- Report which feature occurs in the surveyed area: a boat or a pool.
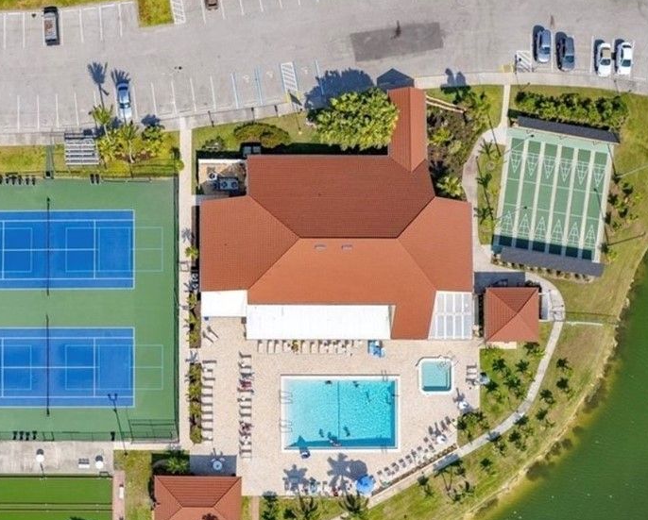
pool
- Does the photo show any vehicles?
Yes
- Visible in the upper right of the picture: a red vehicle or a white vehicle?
white vehicle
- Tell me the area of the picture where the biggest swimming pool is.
bottom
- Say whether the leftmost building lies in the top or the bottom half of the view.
bottom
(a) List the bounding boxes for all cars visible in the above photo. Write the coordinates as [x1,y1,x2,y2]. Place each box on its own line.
[535,26,554,62]
[42,8,60,42]
[205,0,218,10]
[594,40,614,75]
[116,83,133,120]
[615,39,634,74]
[556,34,576,70]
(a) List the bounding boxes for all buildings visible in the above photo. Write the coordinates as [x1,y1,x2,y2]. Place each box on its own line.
[154,475,243,520]
[476,287,540,348]
[199,87,474,340]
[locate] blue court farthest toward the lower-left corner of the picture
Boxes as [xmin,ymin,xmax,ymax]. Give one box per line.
[0,314,162,416]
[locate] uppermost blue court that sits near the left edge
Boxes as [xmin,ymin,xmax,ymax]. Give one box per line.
[0,196,162,296]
